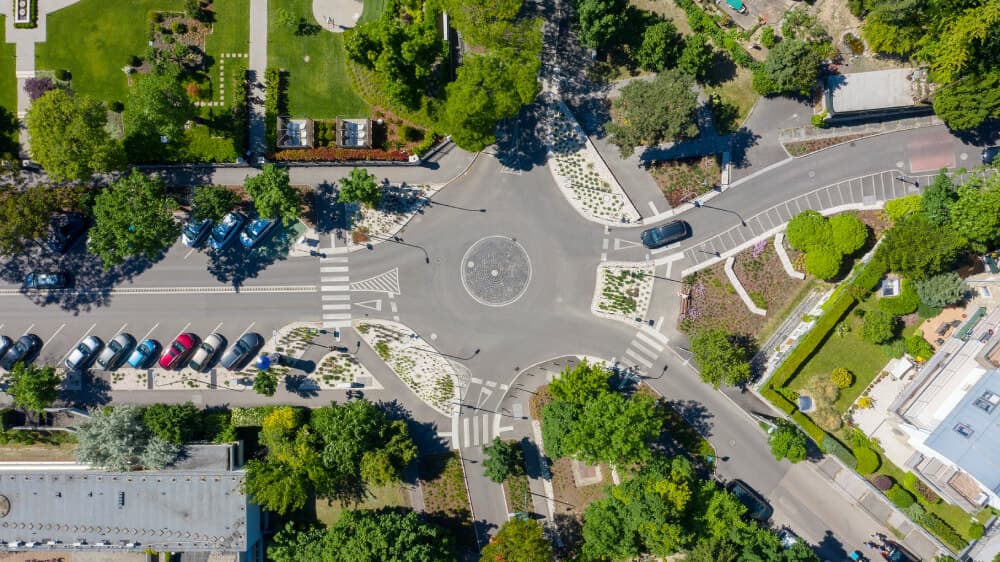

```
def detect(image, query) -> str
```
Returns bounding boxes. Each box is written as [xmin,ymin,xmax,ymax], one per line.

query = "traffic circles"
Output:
[398,156,627,387]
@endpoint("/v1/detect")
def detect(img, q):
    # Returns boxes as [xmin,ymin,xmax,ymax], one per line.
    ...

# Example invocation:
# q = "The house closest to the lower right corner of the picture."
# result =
[886,305,1000,522]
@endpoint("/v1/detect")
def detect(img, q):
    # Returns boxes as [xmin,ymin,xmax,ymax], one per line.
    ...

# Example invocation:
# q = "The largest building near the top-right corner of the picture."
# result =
[818,68,918,117]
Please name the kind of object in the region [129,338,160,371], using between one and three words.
car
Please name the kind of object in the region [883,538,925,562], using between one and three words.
car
